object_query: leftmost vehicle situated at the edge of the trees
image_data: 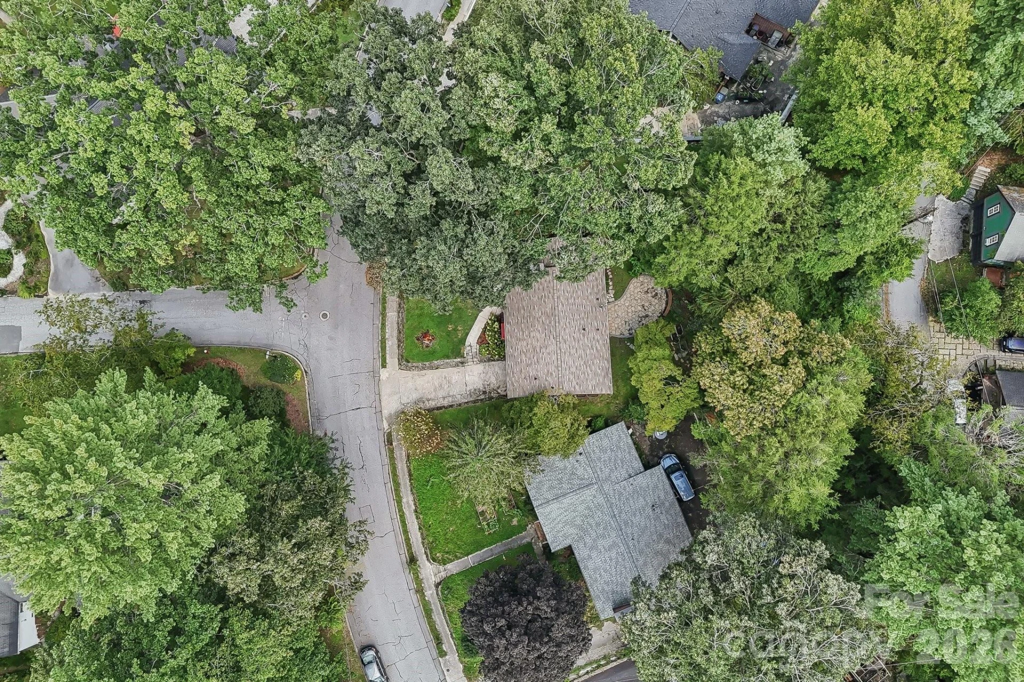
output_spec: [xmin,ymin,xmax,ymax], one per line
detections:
[364,648,397,682]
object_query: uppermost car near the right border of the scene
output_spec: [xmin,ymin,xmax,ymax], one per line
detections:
[1004,335,1024,355]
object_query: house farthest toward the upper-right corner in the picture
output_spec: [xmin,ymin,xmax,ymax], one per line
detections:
[971,188,1024,267]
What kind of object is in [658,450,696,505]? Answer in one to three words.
car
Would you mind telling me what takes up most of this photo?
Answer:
trees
